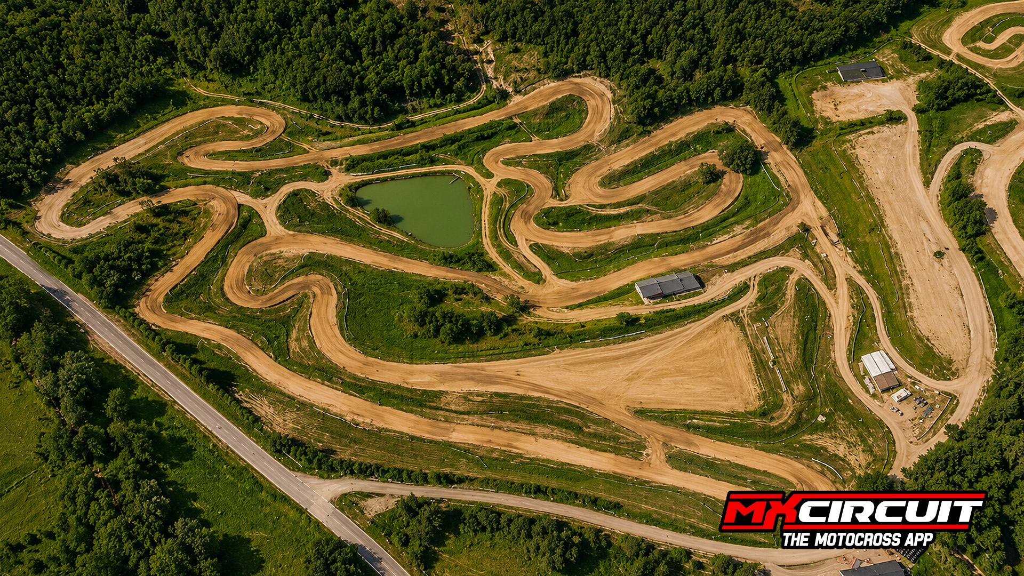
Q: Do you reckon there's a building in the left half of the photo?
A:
No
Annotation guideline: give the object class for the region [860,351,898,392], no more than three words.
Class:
shed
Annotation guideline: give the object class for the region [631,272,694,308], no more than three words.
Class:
building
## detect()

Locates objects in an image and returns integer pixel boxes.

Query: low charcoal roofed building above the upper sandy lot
[836,61,884,88]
